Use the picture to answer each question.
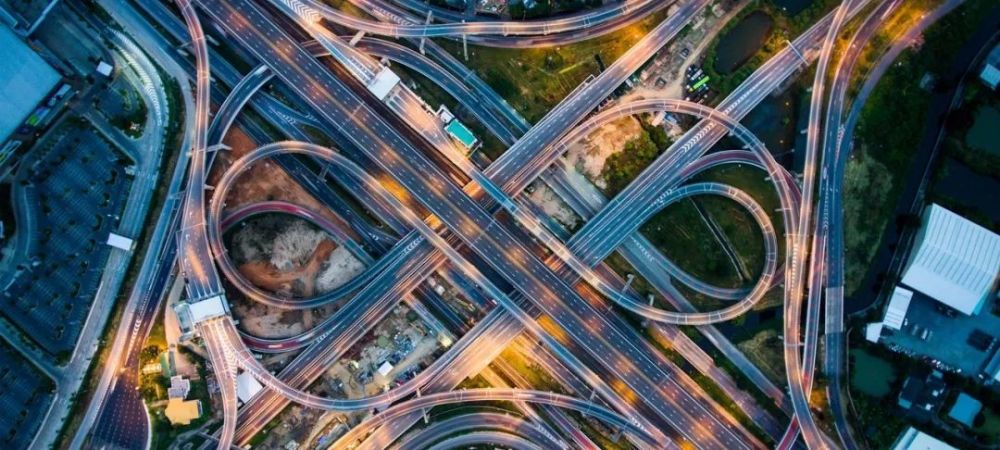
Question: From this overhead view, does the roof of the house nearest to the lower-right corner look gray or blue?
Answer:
blue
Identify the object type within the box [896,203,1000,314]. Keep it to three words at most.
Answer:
building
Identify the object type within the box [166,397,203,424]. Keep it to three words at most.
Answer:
house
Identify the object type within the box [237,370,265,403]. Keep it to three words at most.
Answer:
building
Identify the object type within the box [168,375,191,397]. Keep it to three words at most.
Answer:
house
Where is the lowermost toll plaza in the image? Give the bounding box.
[190,288,231,327]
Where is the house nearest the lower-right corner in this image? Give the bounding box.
[945,391,981,426]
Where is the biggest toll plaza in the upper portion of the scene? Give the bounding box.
[365,64,404,107]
